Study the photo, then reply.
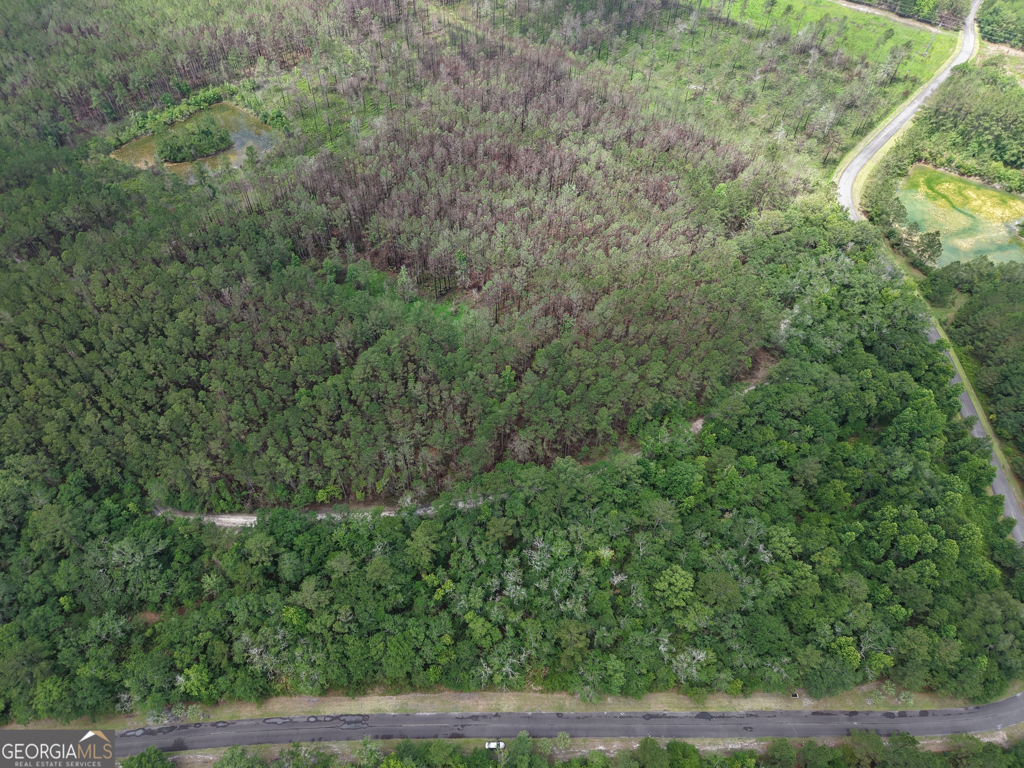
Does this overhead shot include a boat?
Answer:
No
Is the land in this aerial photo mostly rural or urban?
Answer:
rural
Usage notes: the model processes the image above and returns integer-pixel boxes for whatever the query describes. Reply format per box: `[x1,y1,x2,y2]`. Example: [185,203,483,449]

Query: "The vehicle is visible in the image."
[485,736,506,750]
